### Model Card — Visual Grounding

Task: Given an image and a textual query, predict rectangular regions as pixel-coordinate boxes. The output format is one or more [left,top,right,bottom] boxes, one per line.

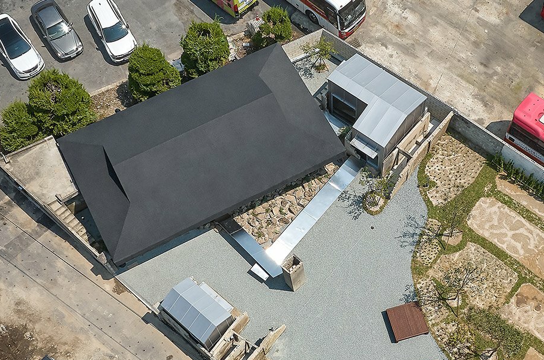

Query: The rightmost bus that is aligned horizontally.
[290,0,363,31]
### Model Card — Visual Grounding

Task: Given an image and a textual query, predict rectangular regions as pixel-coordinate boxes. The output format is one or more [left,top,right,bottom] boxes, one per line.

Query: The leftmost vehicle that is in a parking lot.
[0,9,43,82]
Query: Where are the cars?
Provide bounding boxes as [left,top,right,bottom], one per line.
[86,0,135,63]
[27,0,81,63]
[0,9,43,82]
